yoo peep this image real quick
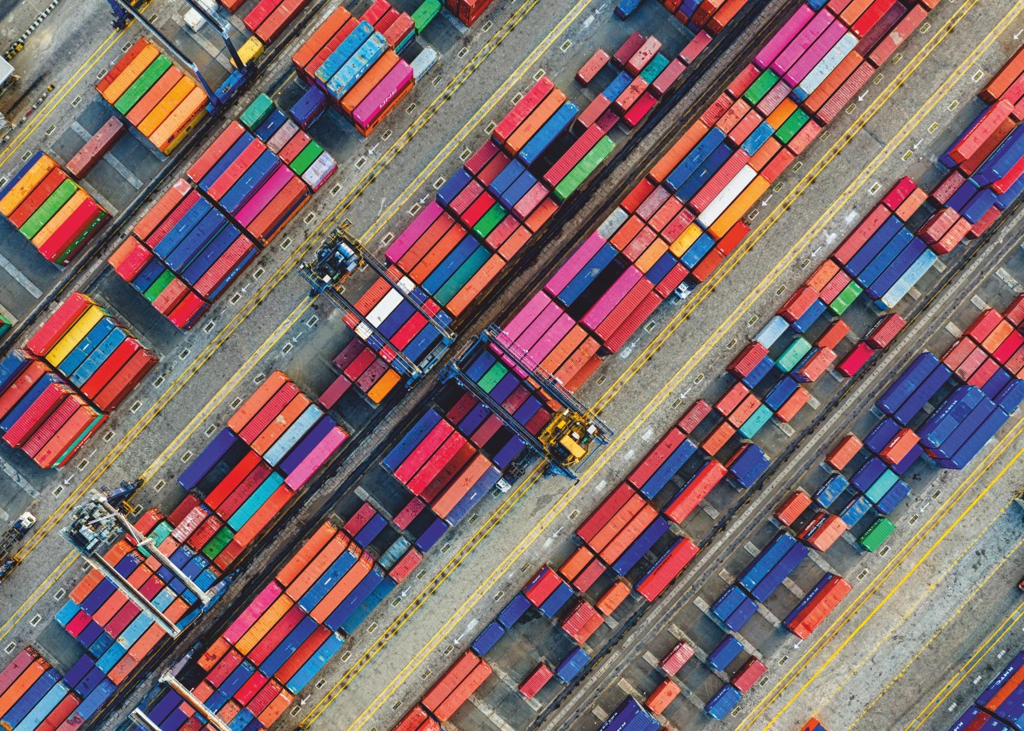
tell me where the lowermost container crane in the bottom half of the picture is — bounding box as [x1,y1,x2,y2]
[127,629,244,731]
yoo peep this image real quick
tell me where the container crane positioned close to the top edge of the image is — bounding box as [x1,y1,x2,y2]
[105,0,259,121]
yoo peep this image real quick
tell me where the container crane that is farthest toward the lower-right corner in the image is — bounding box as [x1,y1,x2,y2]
[430,320,616,487]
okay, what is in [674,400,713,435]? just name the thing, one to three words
shipping container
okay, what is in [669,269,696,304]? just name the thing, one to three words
truck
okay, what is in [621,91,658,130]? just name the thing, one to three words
shipping container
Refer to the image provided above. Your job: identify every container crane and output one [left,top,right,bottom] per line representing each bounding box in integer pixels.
[105,0,259,121]
[50,471,249,646]
[127,629,244,731]
[290,217,467,399]
[430,320,616,487]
